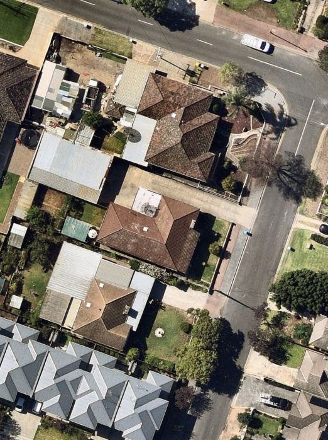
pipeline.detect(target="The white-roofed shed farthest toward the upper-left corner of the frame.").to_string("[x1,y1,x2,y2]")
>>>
[31,60,78,117]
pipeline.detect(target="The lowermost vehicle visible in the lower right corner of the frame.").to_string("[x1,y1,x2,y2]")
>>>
[261,394,290,409]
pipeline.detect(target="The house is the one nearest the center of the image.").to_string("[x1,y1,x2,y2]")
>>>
[96,188,201,274]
